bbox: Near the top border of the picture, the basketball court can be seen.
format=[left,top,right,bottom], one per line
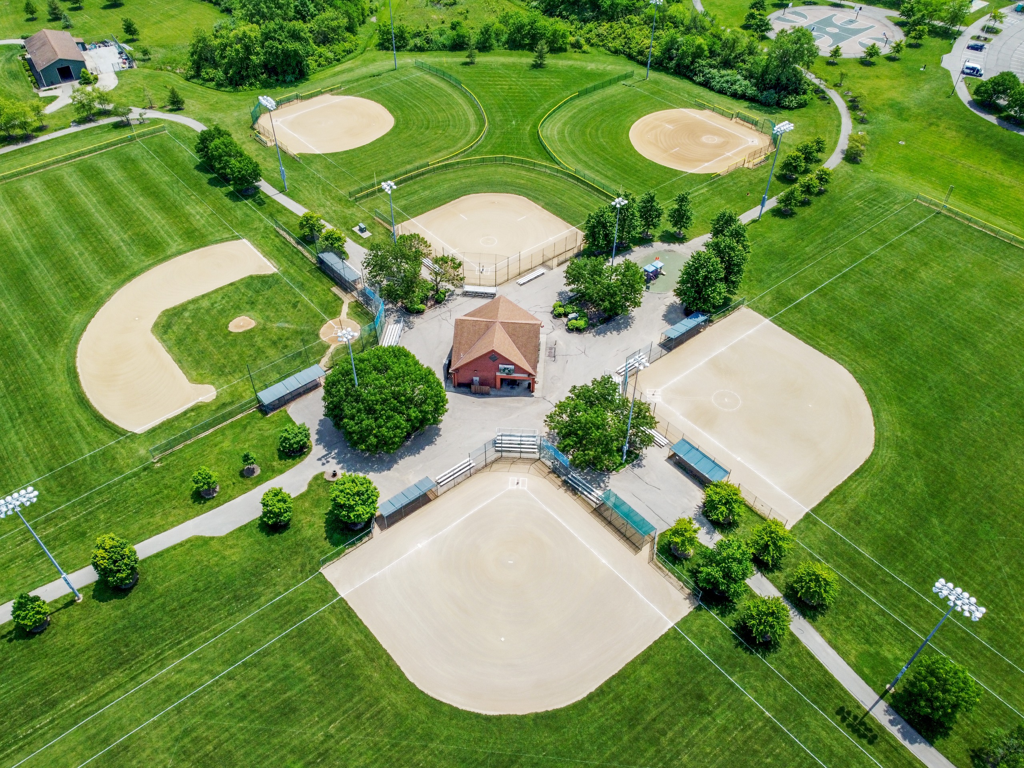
[767,6,906,58]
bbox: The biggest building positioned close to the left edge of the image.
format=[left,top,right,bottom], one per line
[23,29,89,87]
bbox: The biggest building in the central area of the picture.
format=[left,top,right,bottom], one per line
[451,295,542,392]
